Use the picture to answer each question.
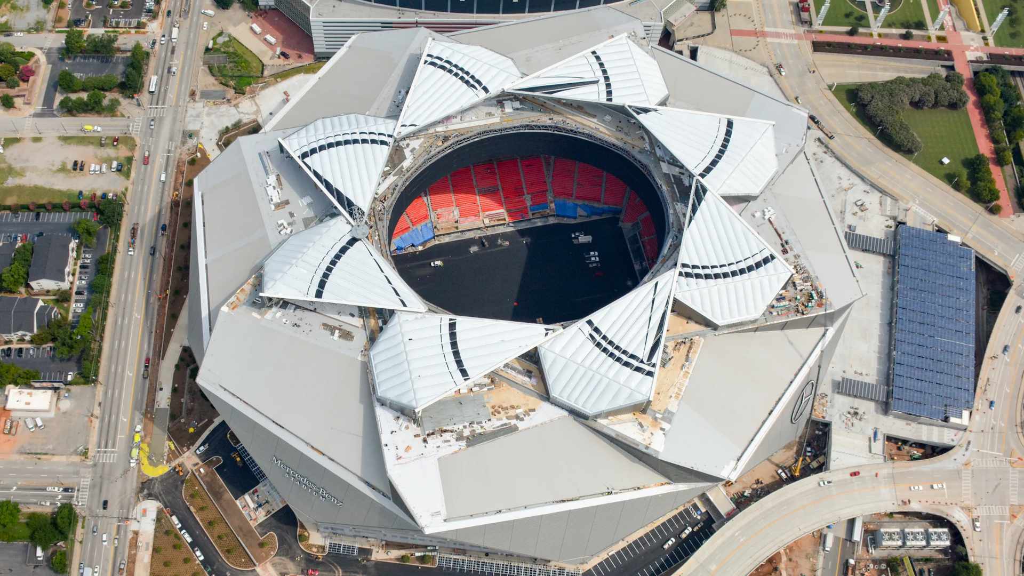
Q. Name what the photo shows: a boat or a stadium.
stadium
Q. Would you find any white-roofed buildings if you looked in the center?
No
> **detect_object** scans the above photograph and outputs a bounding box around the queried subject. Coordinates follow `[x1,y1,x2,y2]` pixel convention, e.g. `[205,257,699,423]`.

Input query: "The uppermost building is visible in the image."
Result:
[658,4,716,65]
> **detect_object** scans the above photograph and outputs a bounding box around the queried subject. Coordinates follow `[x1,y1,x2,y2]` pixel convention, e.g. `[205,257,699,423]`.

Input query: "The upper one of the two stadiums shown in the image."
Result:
[279,0,688,43]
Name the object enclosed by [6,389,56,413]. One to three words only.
building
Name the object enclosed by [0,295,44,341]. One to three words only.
house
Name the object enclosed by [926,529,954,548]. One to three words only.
cooling tower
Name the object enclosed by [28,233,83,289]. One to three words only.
house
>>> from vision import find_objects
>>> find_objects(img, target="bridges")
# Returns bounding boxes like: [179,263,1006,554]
[670,468,852,576]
